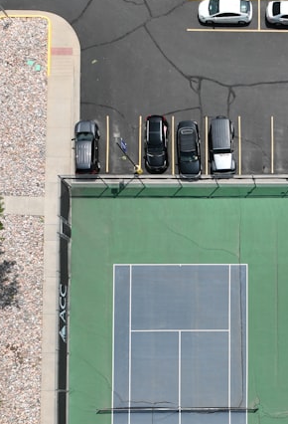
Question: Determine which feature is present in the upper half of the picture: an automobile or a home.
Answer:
automobile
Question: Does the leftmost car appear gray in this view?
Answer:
Yes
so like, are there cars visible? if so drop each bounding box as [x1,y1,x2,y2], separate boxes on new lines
[207,116,237,177]
[140,116,170,175]
[199,0,254,28]
[174,123,202,179]
[264,2,288,29]
[71,121,103,179]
